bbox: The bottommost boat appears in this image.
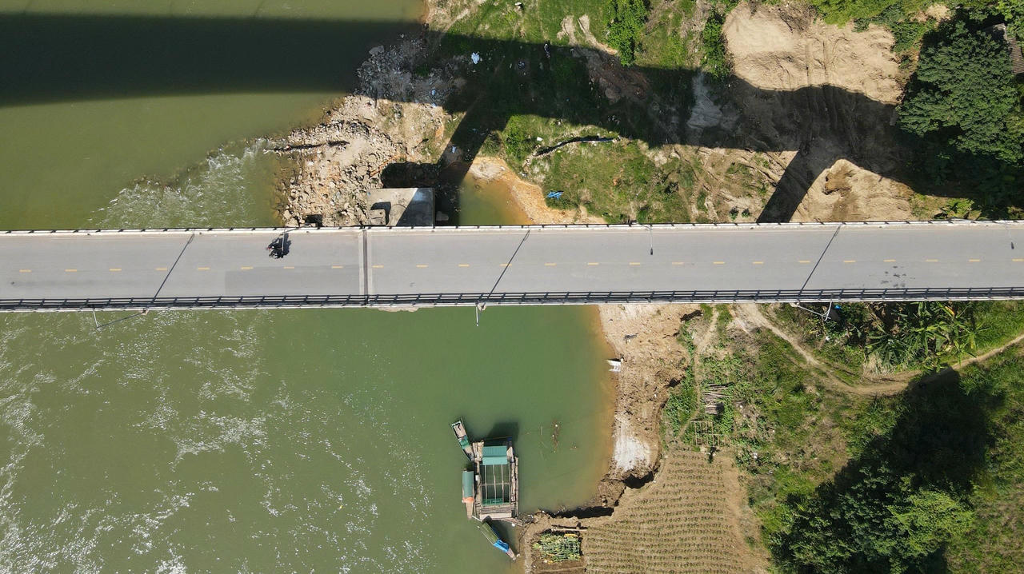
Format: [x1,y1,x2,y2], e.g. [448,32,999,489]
[479,521,516,561]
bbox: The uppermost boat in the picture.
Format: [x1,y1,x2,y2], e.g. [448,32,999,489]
[453,421,473,461]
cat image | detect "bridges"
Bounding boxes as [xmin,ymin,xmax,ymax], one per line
[0,188,1024,312]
